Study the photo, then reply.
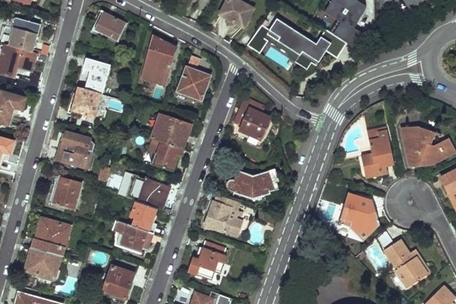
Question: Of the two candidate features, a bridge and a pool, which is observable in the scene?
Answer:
pool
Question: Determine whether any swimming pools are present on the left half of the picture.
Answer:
Yes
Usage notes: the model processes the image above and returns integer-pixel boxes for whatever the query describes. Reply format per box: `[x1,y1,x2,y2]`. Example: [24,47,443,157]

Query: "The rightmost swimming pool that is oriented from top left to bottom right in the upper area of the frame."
[264,45,290,68]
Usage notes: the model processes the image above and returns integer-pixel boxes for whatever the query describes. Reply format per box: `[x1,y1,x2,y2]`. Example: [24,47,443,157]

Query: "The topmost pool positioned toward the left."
[150,84,166,100]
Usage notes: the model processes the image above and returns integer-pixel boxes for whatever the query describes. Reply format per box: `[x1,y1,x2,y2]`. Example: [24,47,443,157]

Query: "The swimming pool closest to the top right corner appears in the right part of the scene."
[346,124,362,152]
